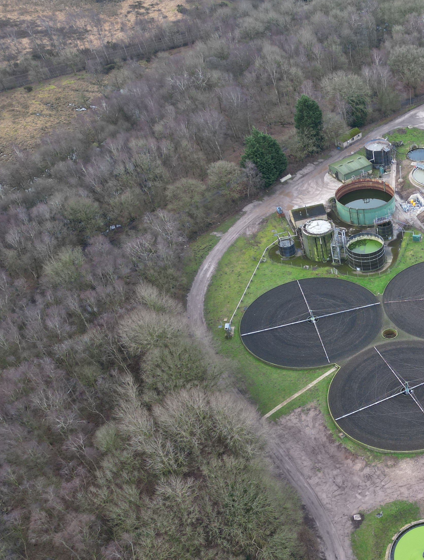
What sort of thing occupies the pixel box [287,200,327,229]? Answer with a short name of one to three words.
building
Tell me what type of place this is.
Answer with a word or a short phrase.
industrial area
